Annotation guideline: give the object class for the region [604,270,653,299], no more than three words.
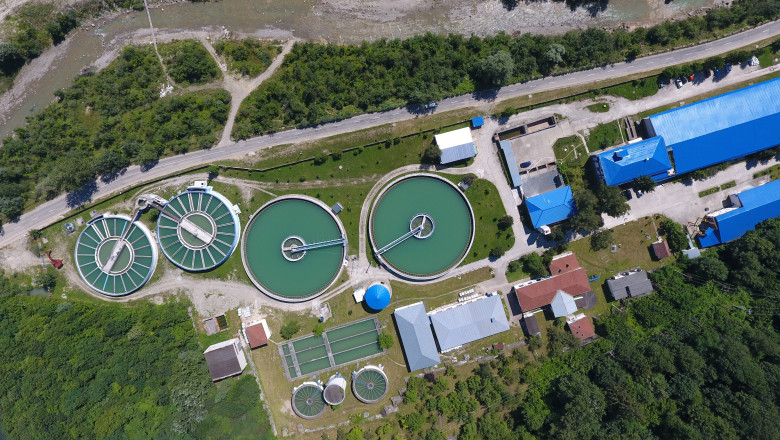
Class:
barn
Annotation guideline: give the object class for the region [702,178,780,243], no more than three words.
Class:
shed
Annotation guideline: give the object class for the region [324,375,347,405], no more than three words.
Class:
silo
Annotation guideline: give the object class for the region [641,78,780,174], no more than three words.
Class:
building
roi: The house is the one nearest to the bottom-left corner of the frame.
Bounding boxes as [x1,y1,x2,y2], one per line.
[204,340,248,380]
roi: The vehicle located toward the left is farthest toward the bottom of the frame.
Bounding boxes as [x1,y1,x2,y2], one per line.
[49,248,65,269]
